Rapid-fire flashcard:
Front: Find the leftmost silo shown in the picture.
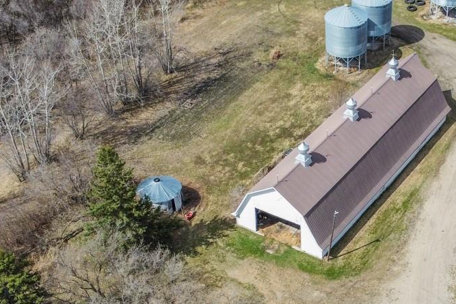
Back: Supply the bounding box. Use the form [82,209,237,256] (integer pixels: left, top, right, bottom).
[326,3,366,71]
